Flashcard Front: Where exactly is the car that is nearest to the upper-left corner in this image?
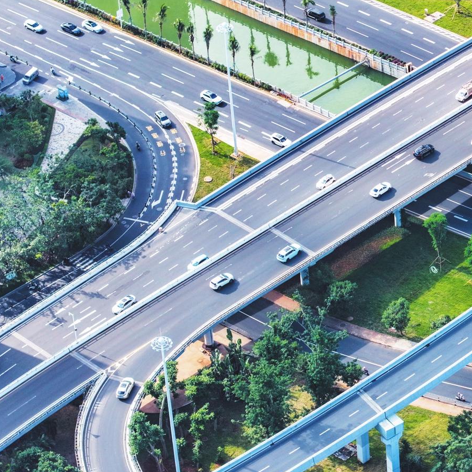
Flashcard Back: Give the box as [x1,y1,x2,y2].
[24,19,43,32]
